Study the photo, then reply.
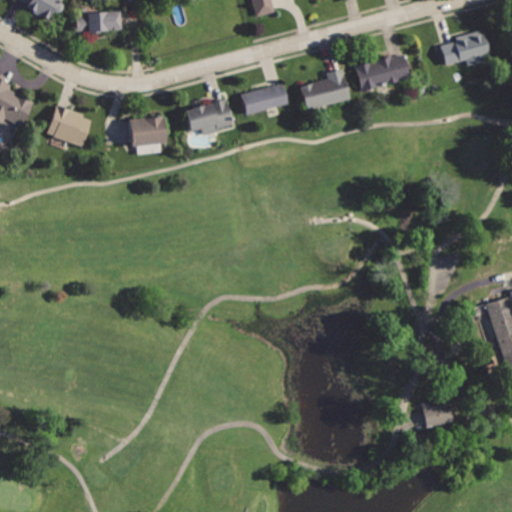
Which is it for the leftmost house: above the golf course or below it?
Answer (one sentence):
Relative to the golf course, the leftmost house lies above it.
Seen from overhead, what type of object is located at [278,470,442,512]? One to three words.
pond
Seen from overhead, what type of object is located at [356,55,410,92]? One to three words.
house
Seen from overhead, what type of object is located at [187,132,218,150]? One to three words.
swimming pool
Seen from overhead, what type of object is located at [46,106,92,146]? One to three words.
house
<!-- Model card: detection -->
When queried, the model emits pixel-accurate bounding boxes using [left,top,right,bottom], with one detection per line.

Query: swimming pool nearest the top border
[172,4,187,28]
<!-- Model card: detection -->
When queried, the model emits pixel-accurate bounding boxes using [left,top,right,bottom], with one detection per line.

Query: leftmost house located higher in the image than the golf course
[0,78,36,128]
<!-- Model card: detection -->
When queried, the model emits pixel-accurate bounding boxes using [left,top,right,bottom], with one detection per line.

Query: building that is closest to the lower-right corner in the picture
[422,401,454,428]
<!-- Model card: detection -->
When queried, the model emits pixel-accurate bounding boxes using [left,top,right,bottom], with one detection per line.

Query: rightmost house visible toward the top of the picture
[440,30,492,66]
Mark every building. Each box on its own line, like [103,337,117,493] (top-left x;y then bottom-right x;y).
[188,96,234,134]
[254,0,274,16]
[241,84,288,115]
[356,55,410,92]
[76,10,124,32]
[131,114,168,156]
[486,299,512,364]
[0,78,36,128]
[302,68,350,107]
[32,0,65,19]
[46,106,92,146]
[440,30,492,66]
[422,401,454,428]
